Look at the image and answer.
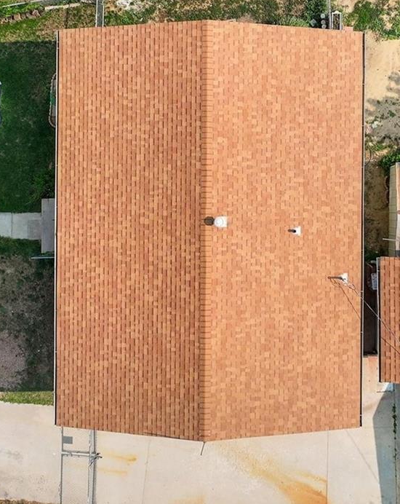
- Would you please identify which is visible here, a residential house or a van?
residential house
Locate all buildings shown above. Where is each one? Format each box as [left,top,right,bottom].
[374,257,400,383]
[53,19,366,439]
